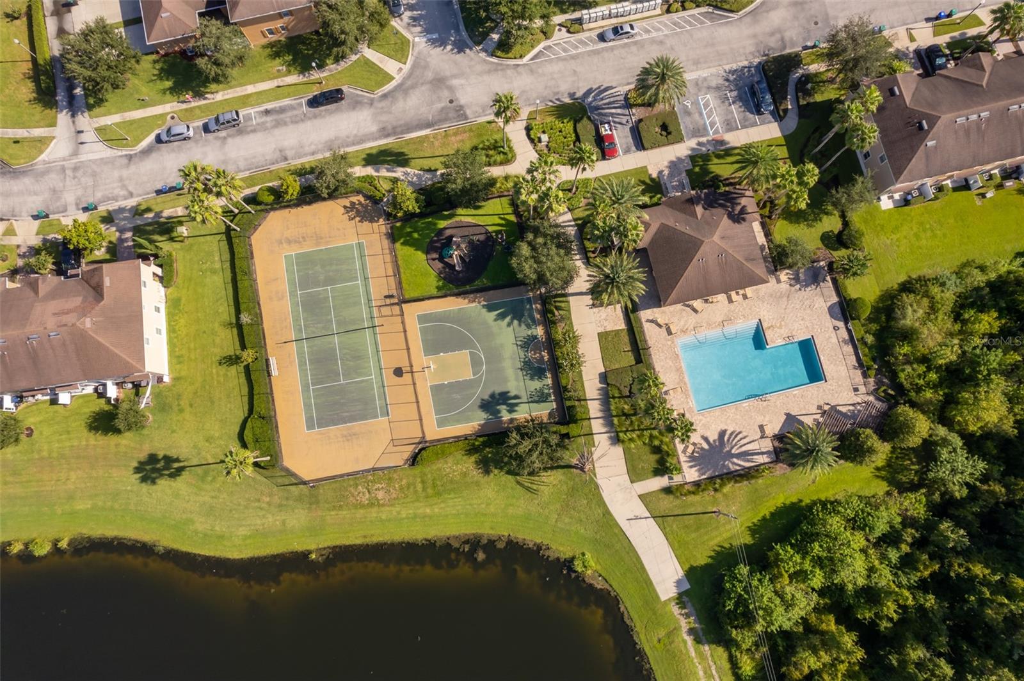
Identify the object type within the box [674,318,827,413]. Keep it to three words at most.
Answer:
swimming pool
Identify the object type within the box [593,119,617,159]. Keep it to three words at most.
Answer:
truck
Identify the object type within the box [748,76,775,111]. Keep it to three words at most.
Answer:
car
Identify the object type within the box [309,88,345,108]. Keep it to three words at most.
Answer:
car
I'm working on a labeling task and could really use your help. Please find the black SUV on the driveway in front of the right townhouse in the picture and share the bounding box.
[921,39,949,67]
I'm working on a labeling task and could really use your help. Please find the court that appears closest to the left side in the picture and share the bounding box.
[251,194,423,480]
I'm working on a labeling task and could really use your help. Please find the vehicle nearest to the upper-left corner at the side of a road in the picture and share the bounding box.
[160,123,193,143]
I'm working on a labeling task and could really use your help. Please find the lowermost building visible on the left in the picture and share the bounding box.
[0,259,165,398]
